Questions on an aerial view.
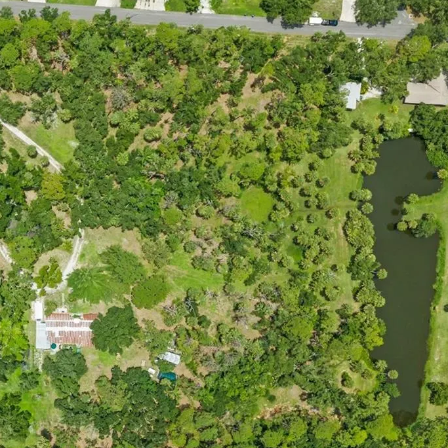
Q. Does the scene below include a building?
Yes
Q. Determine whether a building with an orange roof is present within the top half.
No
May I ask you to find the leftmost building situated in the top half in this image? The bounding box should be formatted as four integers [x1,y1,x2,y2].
[337,83,361,110]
